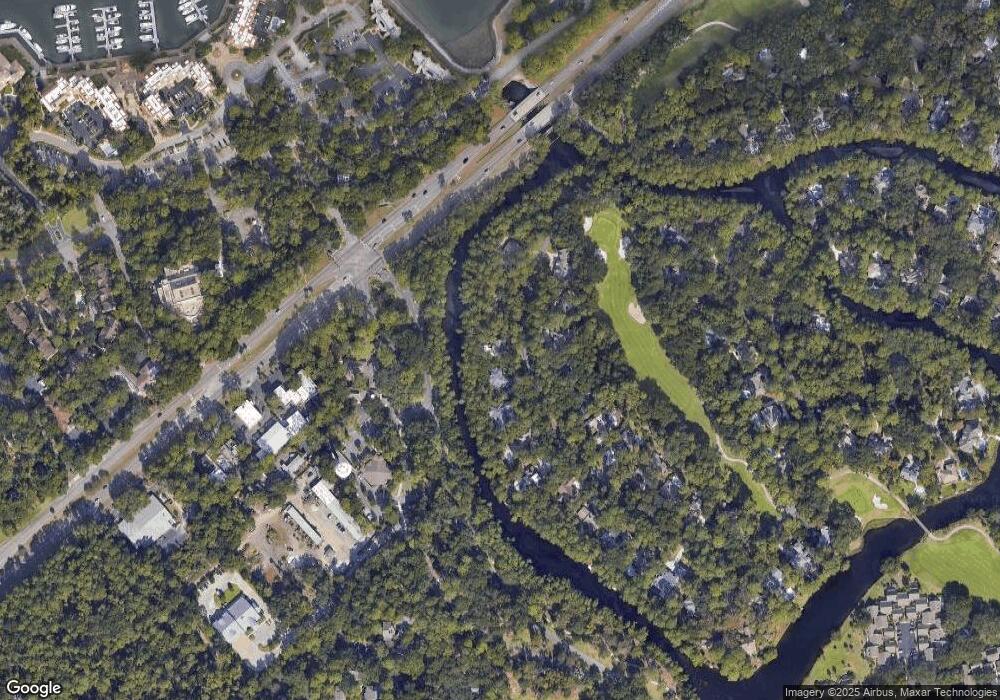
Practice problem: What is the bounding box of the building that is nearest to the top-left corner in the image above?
[0,51,28,85]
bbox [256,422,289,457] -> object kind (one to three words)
building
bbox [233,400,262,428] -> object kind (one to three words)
building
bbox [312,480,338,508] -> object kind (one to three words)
shed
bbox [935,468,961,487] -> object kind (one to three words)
house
